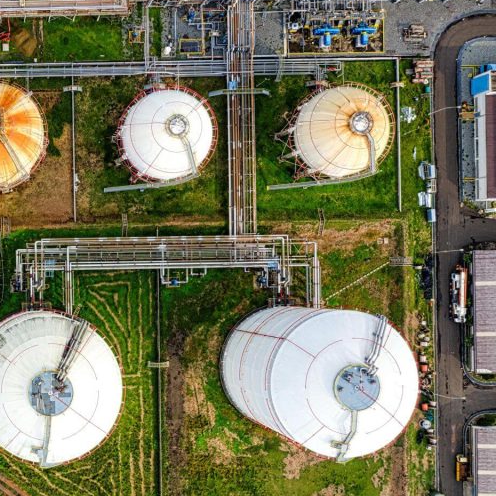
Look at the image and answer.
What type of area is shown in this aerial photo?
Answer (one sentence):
It's an industrial area.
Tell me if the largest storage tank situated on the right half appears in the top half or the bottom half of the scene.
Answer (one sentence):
The bottom half of the photo is where the largest storage tank situated on the right half is.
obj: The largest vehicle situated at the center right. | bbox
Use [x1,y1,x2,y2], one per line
[441,266,467,324]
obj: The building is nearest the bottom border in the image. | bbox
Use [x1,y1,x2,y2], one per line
[465,424,496,496]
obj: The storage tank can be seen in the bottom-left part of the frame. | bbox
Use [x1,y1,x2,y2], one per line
[0,308,124,469]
